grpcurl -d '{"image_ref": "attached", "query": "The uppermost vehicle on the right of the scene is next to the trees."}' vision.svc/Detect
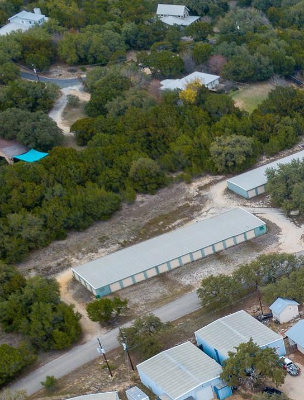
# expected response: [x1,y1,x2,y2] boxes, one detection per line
[279,358,302,375]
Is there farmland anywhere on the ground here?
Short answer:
No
